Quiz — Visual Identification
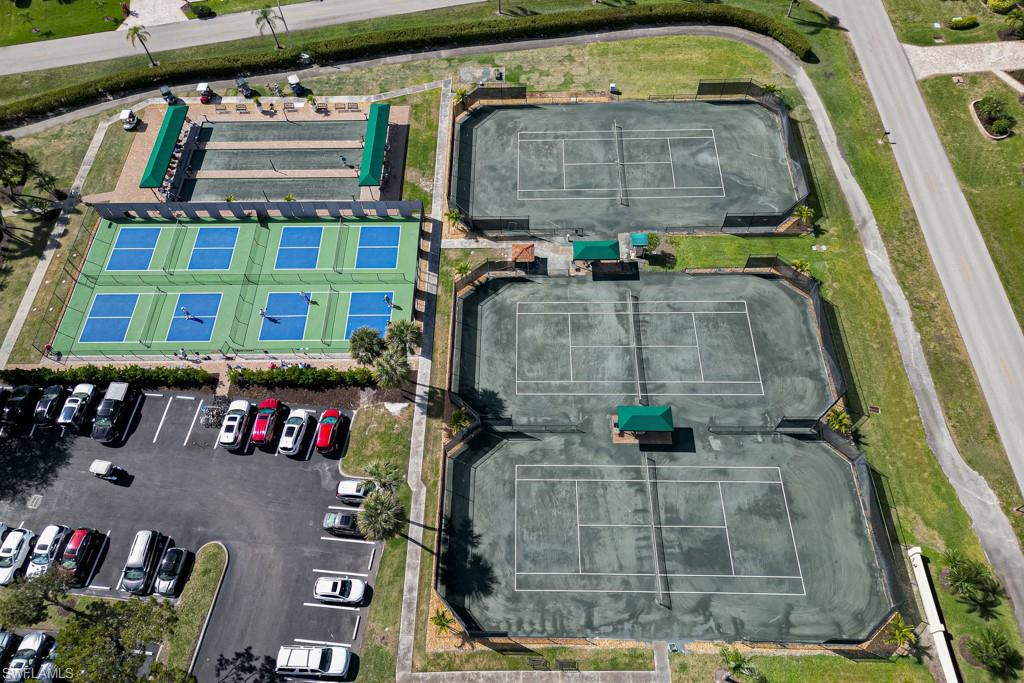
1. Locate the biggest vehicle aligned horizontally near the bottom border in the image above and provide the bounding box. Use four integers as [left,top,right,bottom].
[276,644,351,679]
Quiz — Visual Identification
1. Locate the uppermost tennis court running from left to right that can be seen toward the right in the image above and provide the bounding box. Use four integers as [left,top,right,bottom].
[451,101,797,238]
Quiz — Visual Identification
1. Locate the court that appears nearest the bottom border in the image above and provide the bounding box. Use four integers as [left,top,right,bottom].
[440,432,891,643]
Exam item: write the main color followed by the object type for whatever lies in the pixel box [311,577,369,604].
white car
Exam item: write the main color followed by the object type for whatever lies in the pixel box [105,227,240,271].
blue sports court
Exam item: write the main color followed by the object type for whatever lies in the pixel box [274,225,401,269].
blue sports court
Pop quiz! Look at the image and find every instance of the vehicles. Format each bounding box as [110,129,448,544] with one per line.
[0,527,38,585]
[196,83,215,105]
[219,403,252,450]
[0,515,12,547]
[120,530,164,594]
[120,110,139,132]
[318,512,365,538]
[0,388,11,417]
[0,623,22,681]
[276,644,351,679]
[250,401,282,448]
[59,527,102,586]
[91,460,126,482]
[332,478,383,503]
[236,78,253,100]
[57,384,96,429]
[311,577,369,604]
[288,75,304,97]
[158,86,179,106]
[4,628,51,683]
[27,524,70,581]
[29,384,69,429]
[315,410,343,456]
[279,411,309,458]
[93,384,135,441]
[154,547,190,598]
